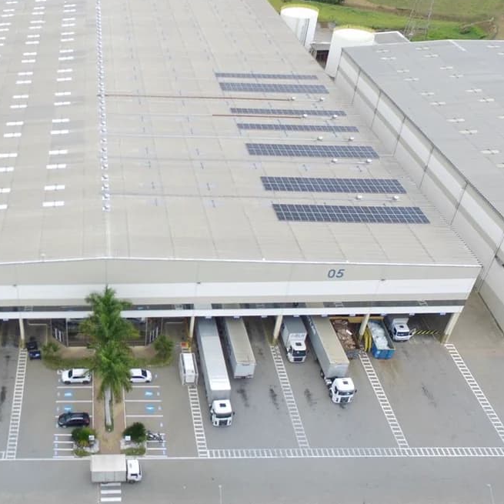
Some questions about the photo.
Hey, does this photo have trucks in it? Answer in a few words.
Yes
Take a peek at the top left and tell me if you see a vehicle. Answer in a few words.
No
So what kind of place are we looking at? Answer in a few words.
industrial area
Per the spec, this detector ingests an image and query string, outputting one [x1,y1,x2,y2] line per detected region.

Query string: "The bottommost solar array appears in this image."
[271,203,430,223]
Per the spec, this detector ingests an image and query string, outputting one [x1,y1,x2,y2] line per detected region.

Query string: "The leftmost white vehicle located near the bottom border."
[94,452,149,484]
